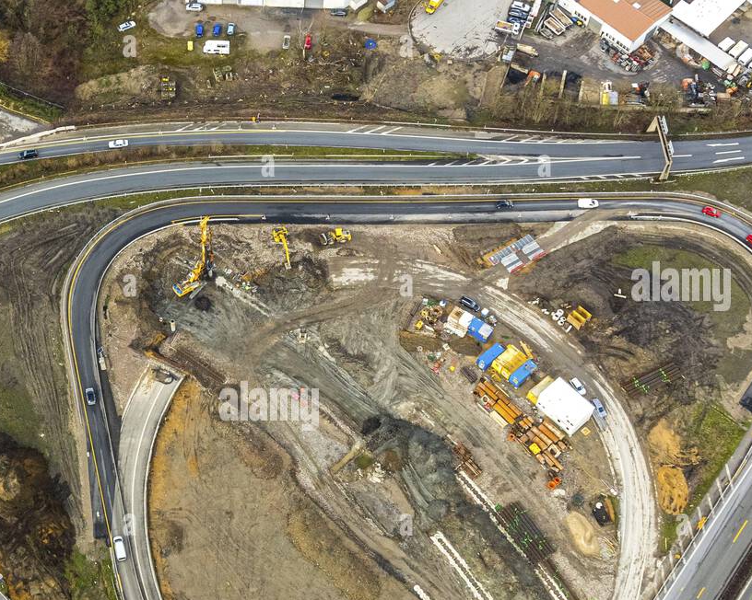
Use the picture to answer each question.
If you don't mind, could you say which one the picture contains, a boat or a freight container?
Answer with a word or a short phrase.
freight container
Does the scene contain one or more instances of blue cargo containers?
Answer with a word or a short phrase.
Yes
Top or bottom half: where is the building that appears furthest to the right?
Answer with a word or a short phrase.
top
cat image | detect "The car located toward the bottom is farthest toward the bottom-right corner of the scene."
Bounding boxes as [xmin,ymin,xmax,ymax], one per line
[591,399,606,419]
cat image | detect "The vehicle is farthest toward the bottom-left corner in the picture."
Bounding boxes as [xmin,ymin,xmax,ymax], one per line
[112,537,125,560]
